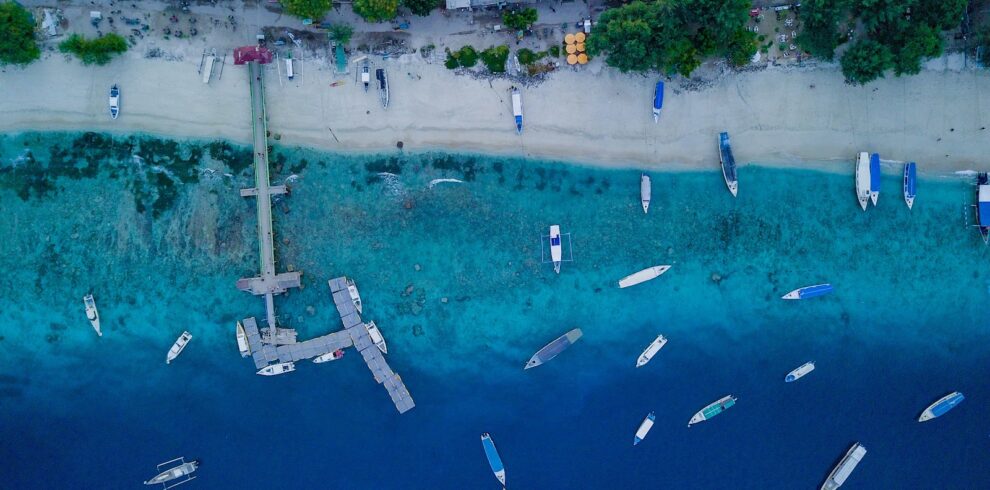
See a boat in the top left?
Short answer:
Yes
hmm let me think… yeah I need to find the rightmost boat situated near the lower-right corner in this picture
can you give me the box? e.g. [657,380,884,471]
[917,391,969,422]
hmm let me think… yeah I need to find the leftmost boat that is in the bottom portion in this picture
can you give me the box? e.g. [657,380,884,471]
[84,294,102,337]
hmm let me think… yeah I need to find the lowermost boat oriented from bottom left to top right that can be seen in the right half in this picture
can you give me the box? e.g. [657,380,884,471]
[821,440,869,490]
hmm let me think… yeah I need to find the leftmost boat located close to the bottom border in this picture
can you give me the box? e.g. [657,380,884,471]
[144,455,198,488]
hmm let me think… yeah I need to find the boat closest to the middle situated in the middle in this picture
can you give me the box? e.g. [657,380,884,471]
[539,224,564,274]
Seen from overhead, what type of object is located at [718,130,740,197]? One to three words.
boat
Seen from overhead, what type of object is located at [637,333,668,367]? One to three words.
boat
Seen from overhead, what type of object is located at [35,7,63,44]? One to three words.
shed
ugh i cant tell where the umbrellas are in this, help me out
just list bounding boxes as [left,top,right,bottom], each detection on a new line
[577,53,588,64]
[567,54,577,65]
[565,34,575,43]
[574,32,585,43]
[576,43,585,52]
[566,43,576,54]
